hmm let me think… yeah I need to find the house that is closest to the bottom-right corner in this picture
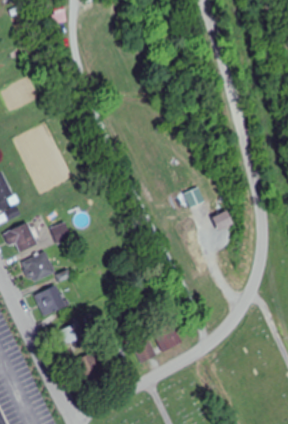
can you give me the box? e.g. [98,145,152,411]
[156,330,181,353]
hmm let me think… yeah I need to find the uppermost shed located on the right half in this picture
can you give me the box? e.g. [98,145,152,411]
[178,186,204,208]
